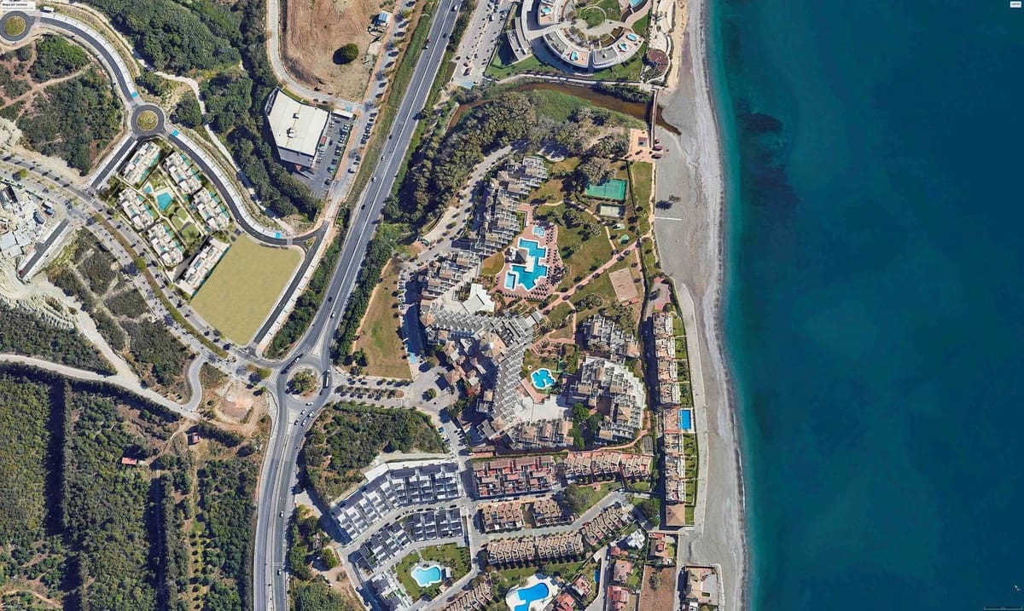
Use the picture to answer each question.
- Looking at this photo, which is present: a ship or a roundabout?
roundabout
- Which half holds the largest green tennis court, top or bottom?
top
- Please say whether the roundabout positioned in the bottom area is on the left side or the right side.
left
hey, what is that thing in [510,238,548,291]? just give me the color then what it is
blue swimming pool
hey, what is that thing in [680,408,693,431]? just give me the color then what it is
blue swimming pool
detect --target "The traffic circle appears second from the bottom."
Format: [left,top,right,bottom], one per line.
[131,103,165,137]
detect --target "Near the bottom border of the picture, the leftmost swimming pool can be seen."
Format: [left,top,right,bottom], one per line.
[412,564,442,588]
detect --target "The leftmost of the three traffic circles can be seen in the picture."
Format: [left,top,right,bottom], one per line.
[0,10,31,41]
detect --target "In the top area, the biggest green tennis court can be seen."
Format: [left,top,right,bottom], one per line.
[586,175,626,200]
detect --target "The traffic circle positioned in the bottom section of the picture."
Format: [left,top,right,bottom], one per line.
[276,356,332,411]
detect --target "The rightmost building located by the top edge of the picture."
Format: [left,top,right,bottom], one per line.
[590,25,640,67]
